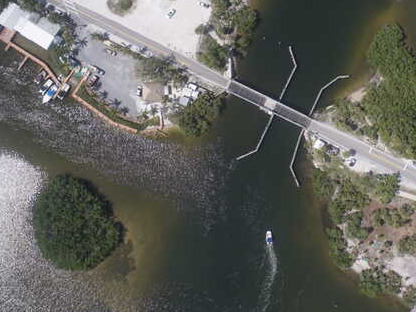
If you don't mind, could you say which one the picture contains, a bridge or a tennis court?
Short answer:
bridge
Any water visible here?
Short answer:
Yes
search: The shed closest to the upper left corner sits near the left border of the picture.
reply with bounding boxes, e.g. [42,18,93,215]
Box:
[0,2,29,32]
